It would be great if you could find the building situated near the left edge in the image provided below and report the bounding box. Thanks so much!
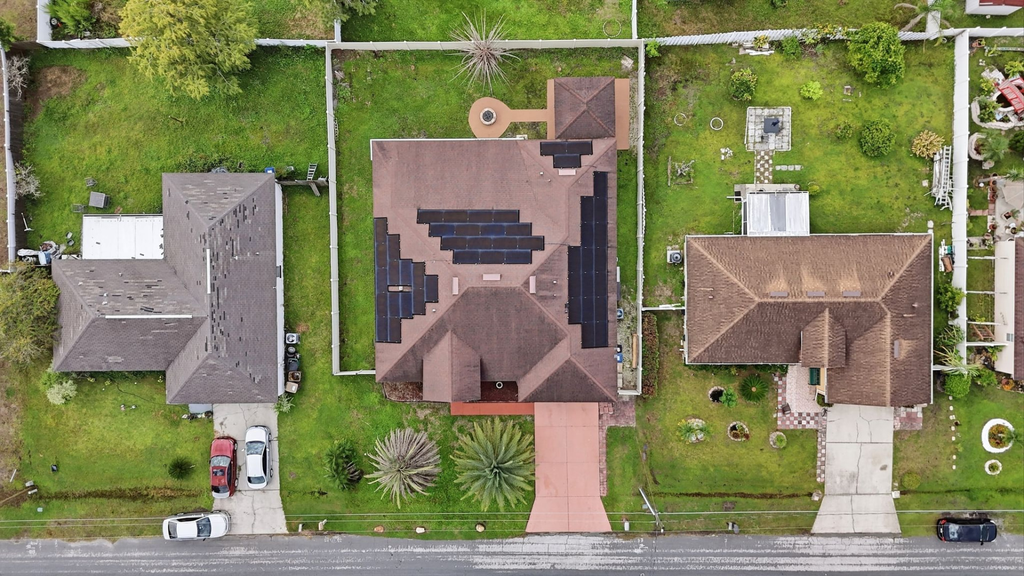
[51,172,286,405]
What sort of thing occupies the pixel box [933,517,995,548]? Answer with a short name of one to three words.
car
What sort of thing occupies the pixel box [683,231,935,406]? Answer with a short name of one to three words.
house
